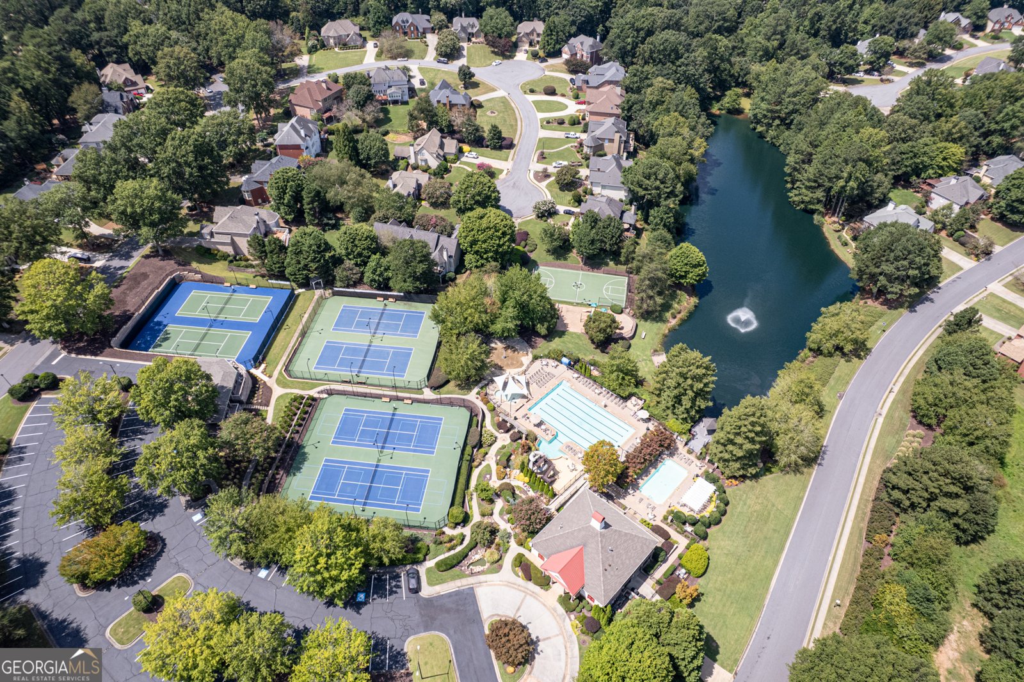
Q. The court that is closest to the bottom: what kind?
tennis court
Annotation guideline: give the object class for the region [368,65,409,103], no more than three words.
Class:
house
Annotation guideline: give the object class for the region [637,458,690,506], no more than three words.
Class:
swimming pool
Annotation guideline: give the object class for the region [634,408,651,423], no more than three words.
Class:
umbrella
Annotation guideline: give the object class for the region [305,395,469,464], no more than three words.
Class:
tennis court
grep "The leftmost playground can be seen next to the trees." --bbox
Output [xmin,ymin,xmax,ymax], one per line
[490,347,528,369]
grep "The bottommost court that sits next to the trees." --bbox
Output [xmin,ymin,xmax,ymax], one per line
[278,449,456,529]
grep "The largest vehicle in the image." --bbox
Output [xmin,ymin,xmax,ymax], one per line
[406,569,419,593]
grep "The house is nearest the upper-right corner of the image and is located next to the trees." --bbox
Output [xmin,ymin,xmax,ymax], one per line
[972,5,1024,34]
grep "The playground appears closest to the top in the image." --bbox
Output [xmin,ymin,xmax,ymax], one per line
[544,302,636,338]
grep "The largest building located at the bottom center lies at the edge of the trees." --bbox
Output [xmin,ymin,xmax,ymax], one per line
[531,489,662,607]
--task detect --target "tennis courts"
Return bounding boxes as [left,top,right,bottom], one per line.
[311,296,440,344]
[305,395,469,464]
[288,334,431,388]
[278,449,456,529]
[126,318,273,369]
[149,281,291,327]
